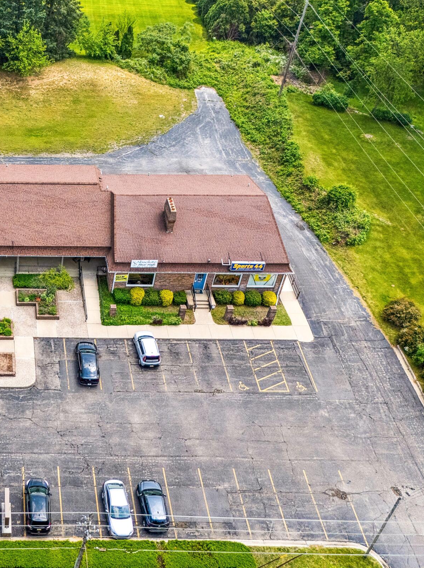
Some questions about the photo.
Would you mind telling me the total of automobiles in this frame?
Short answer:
five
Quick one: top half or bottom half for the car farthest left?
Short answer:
bottom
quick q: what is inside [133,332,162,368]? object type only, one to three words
car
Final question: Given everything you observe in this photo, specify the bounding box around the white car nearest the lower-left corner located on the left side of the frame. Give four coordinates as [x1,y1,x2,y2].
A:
[102,479,135,540]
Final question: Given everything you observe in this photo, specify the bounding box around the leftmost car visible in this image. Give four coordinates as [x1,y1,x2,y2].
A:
[24,479,54,536]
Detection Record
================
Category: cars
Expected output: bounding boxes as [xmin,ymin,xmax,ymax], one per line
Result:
[24,479,54,536]
[76,342,102,387]
[133,332,162,368]
[137,481,171,533]
[102,479,135,540]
